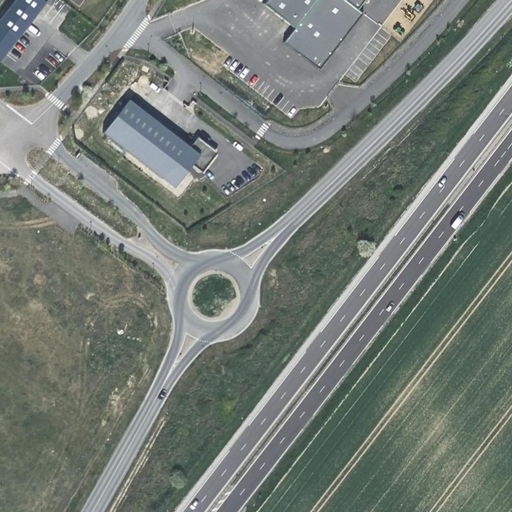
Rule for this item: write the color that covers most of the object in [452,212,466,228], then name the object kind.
white vehicle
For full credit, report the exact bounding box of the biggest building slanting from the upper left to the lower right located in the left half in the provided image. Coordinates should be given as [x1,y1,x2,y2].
[104,99,200,187]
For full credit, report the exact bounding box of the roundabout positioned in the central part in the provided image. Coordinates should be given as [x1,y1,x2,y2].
[129,228,274,374]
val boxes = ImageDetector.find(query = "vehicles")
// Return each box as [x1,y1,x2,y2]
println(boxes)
[220,184,230,194]
[149,83,161,94]
[288,107,296,117]
[231,179,240,188]
[250,74,258,85]
[242,170,252,180]
[438,176,448,186]
[16,42,25,52]
[224,56,233,66]
[274,94,282,104]
[20,36,29,46]
[232,142,244,152]
[206,170,214,180]
[234,64,244,74]
[48,56,57,66]
[236,175,246,186]
[385,302,394,312]
[158,389,166,400]
[28,24,40,36]
[11,48,20,58]
[39,63,49,74]
[240,68,249,78]
[54,52,64,62]
[190,498,198,509]
[452,212,466,228]
[226,182,236,192]
[35,70,46,80]
[230,60,238,70]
